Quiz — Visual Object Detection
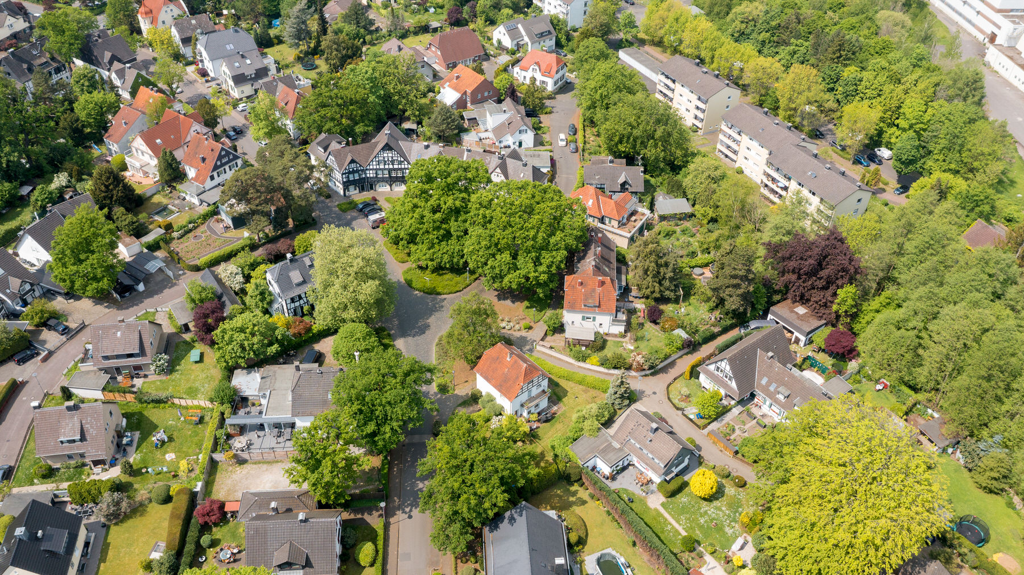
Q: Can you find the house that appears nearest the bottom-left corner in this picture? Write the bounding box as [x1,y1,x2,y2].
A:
[0,491,89,575]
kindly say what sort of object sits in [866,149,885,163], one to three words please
car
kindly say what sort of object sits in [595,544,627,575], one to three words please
swimming pool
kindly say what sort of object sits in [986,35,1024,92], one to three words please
building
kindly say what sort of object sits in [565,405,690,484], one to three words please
house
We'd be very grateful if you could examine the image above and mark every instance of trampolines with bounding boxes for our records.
[954,510,998,546]
[300,57,316,70]
[833,357,846,372]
